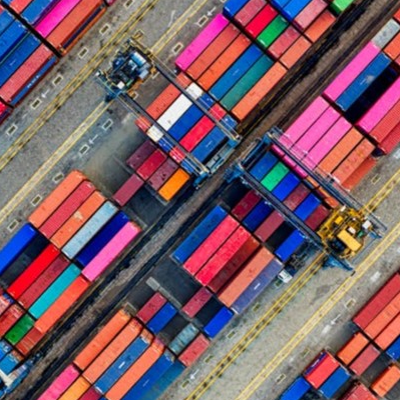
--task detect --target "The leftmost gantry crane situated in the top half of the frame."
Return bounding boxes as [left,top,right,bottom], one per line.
[89,27,250,186]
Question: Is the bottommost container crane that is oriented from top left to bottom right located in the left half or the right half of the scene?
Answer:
right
